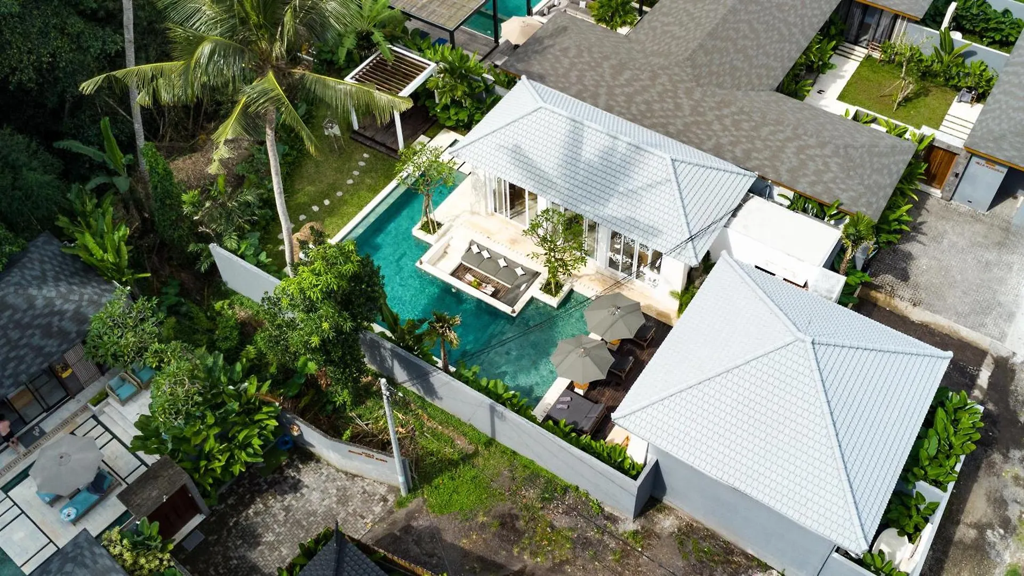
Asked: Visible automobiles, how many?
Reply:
0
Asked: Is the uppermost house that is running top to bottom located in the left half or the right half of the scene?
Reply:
right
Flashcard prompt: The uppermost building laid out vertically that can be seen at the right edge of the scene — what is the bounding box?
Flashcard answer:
[963,30,1024,177]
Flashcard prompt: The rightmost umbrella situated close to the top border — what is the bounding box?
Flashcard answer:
[501,19,540,47]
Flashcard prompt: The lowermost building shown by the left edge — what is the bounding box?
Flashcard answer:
[28,526,130,576]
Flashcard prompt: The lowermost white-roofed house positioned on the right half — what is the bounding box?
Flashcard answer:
[608,249,960,576]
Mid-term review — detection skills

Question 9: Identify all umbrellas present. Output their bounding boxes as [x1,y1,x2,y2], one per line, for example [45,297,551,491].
[549,331,614,387]
[581,290,647,343]
[501,19,540,47]
[26,431,107,498]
